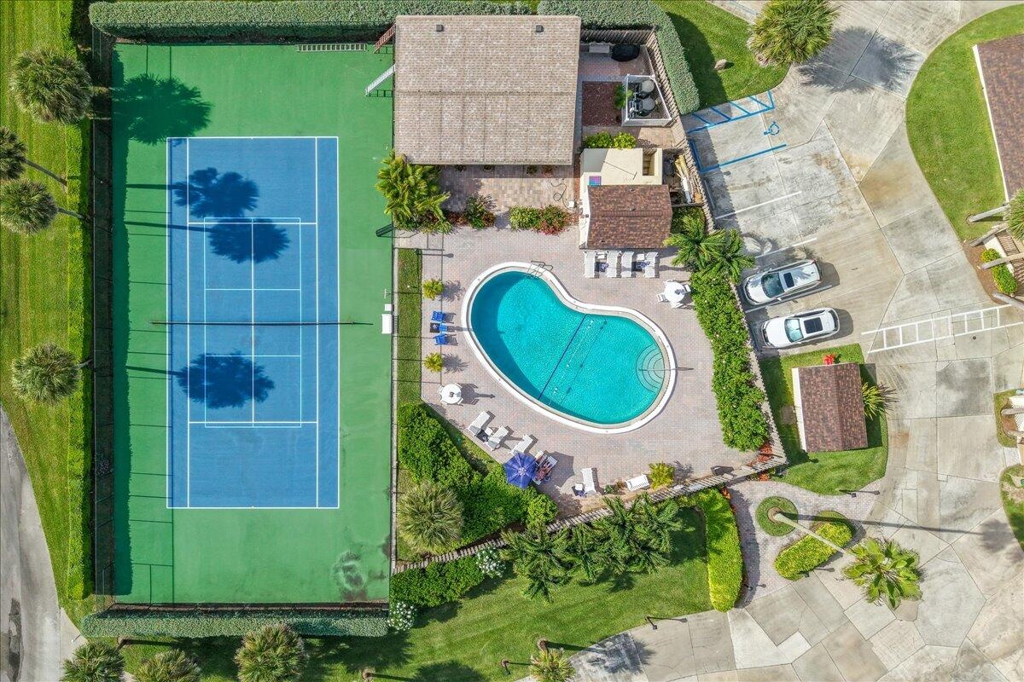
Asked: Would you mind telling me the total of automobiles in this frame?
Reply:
2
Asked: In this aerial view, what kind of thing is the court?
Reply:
tennis court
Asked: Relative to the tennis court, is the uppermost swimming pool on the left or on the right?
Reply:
on the right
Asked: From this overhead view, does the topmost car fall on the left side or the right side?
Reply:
right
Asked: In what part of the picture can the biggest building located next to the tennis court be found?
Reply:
top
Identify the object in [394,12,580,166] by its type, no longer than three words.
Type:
building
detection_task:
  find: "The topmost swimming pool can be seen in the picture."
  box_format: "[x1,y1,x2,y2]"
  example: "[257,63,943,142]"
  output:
[461,261,677,433]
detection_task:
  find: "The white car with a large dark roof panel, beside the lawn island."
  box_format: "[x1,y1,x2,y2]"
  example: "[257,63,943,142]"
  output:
[758,308,841,347]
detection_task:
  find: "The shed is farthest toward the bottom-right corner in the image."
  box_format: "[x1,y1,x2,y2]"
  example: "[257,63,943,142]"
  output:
[785,361,868,454]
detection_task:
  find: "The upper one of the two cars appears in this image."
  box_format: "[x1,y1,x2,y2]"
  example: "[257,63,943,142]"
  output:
[741,258,822,304]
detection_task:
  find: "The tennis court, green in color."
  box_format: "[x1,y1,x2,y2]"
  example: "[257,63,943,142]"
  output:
[113,43,392,603]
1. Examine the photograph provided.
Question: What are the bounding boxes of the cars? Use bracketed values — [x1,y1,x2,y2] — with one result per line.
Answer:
[758,308,841,347]
[741,258,822,304]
